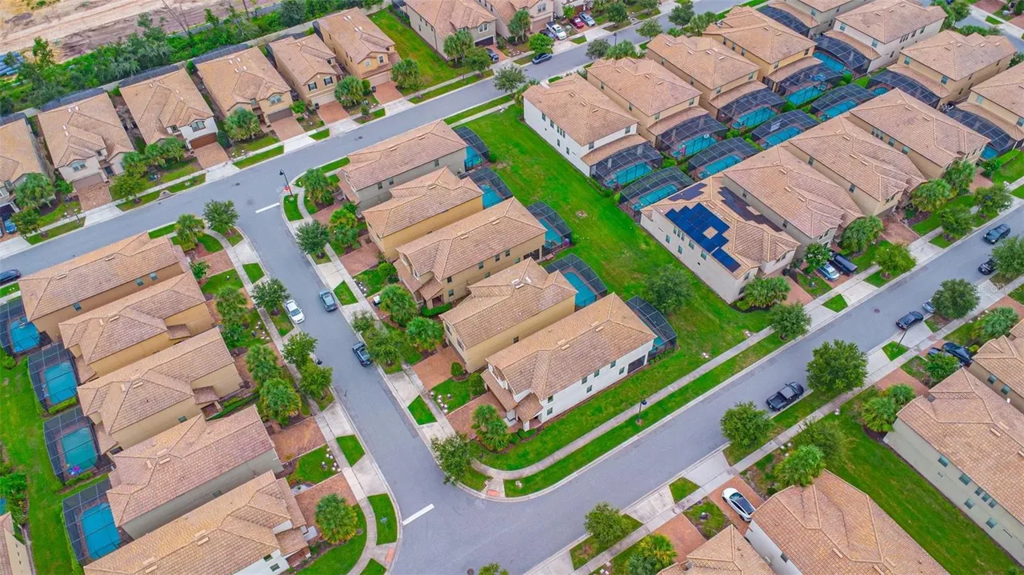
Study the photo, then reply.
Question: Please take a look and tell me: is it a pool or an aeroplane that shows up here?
pool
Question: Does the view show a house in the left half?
Yes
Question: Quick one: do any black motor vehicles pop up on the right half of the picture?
Yes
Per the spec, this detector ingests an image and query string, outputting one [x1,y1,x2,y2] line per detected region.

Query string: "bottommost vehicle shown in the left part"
[351,343,375,370]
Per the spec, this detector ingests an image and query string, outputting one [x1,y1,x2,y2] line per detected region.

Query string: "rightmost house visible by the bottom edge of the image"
[885,366,1024,559]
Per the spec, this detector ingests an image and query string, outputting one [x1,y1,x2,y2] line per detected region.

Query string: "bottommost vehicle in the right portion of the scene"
[719,483,759,524]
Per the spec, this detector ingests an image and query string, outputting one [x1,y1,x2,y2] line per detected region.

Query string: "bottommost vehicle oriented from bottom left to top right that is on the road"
[761,380,805,414]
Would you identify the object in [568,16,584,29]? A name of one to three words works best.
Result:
vehicle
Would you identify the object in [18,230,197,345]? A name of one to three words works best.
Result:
house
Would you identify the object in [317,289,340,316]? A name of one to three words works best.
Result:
car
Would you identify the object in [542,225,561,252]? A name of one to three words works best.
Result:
swimming pool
